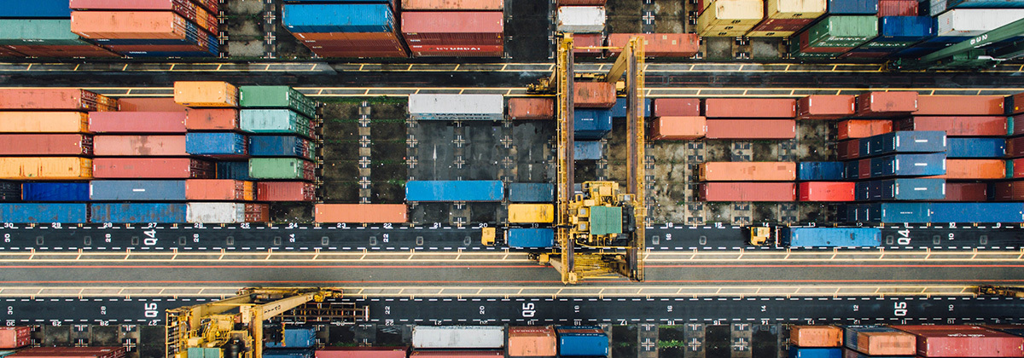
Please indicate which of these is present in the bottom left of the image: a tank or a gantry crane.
gantry crane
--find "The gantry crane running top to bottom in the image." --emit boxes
[528,32,649,286]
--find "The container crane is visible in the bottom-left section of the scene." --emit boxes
[163,284,338,358]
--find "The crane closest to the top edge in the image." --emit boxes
[887,9,1024,71]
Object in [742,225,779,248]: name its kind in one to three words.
truck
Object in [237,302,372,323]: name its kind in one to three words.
truck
